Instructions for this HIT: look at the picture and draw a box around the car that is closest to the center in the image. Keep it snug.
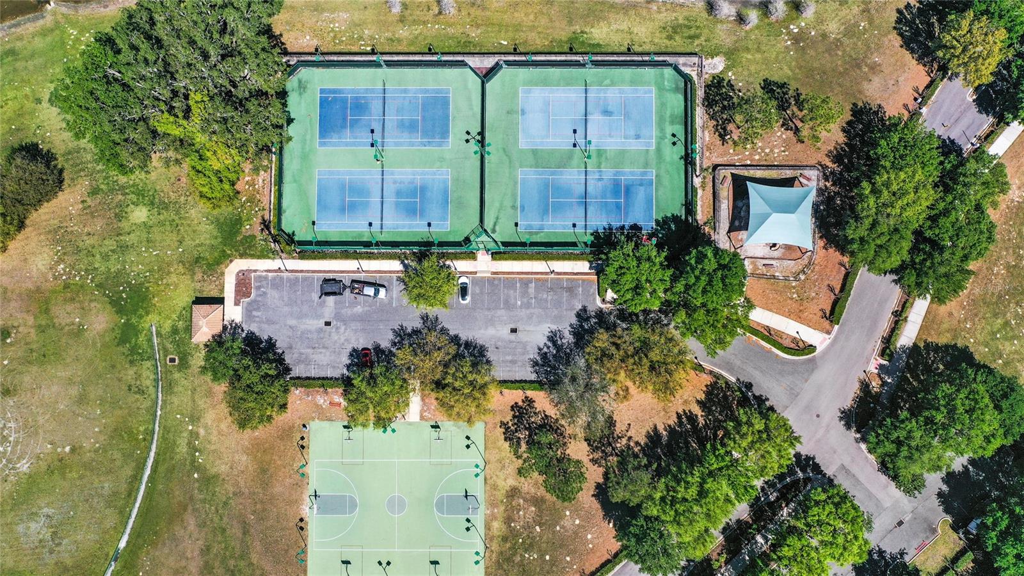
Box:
[457,276,470,303]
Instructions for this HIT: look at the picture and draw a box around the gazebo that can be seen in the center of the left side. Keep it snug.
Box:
[191,304,229,342]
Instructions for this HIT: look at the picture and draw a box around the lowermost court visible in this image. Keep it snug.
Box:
[308,422,486,576]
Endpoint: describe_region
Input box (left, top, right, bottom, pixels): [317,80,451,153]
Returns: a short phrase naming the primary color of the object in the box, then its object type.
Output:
blue tennis court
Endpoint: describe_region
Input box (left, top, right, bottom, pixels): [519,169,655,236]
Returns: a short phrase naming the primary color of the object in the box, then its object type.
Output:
blue tennis court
